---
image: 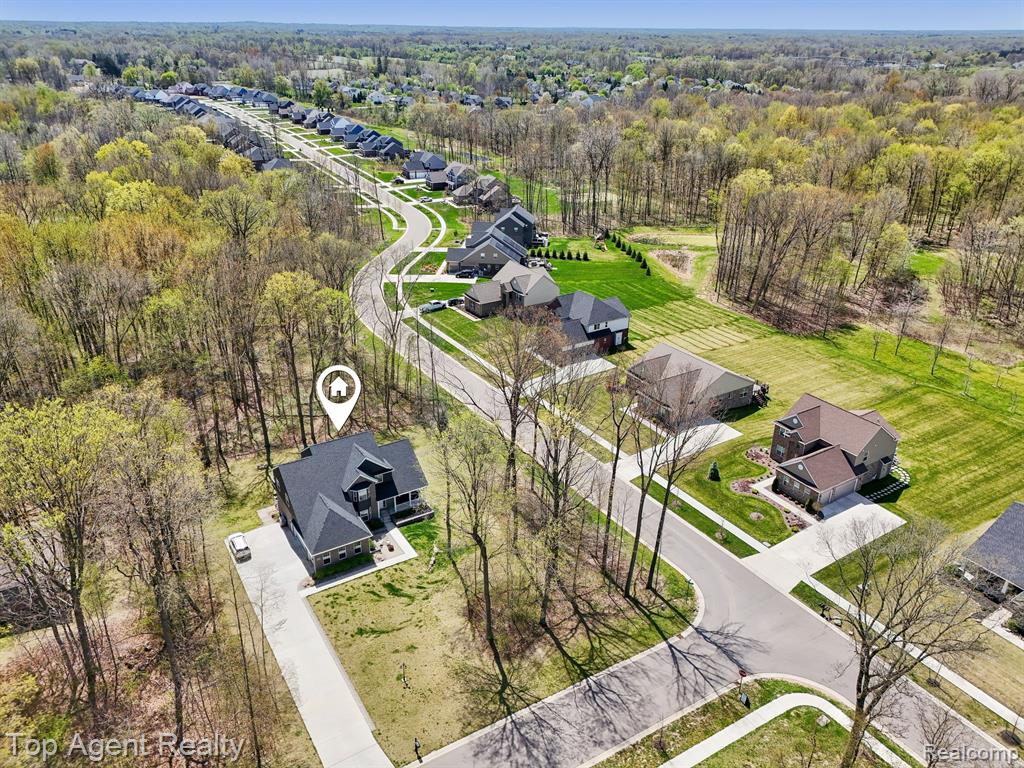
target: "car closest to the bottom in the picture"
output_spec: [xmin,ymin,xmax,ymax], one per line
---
[229,536,254,562]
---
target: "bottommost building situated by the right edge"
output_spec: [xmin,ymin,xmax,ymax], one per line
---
[958,504,1024,624]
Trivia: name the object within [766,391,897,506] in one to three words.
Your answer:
house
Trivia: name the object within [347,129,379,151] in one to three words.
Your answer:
house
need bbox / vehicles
[419,195,433,201]
[455,271,475,279]
[445,297,463,306]
[420,300,445,310]
[229,536,254,562]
